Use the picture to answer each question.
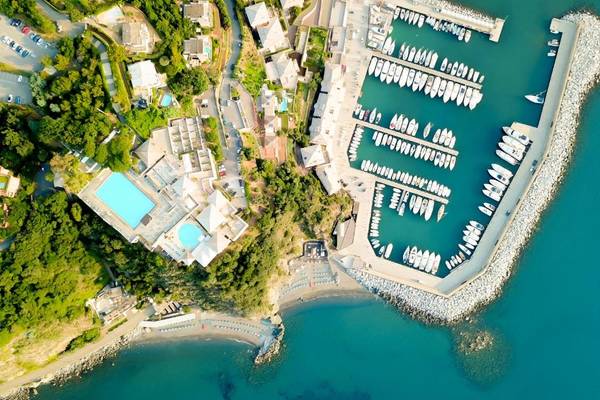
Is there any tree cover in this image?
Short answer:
Yes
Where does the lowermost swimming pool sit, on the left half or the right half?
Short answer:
left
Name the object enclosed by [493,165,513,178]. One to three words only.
boat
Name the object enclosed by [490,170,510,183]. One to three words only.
boat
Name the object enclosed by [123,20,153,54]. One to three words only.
house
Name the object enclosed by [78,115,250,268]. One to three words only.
building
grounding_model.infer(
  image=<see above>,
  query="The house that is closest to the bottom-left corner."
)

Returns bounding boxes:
[87,285,135,322]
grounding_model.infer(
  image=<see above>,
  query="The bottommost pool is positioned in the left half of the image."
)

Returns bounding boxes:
[177,221,203,249]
